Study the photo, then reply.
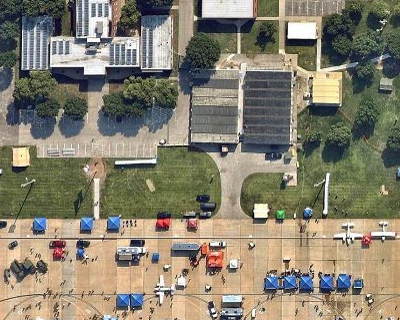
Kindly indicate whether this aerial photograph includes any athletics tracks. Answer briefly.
No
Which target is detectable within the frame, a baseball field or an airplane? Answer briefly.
airplane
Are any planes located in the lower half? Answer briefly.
Yes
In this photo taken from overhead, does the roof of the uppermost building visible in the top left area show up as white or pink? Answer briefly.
white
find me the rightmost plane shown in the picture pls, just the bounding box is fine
[370,222,397,241]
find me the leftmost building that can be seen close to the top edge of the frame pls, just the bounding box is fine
[21,0,175,75]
